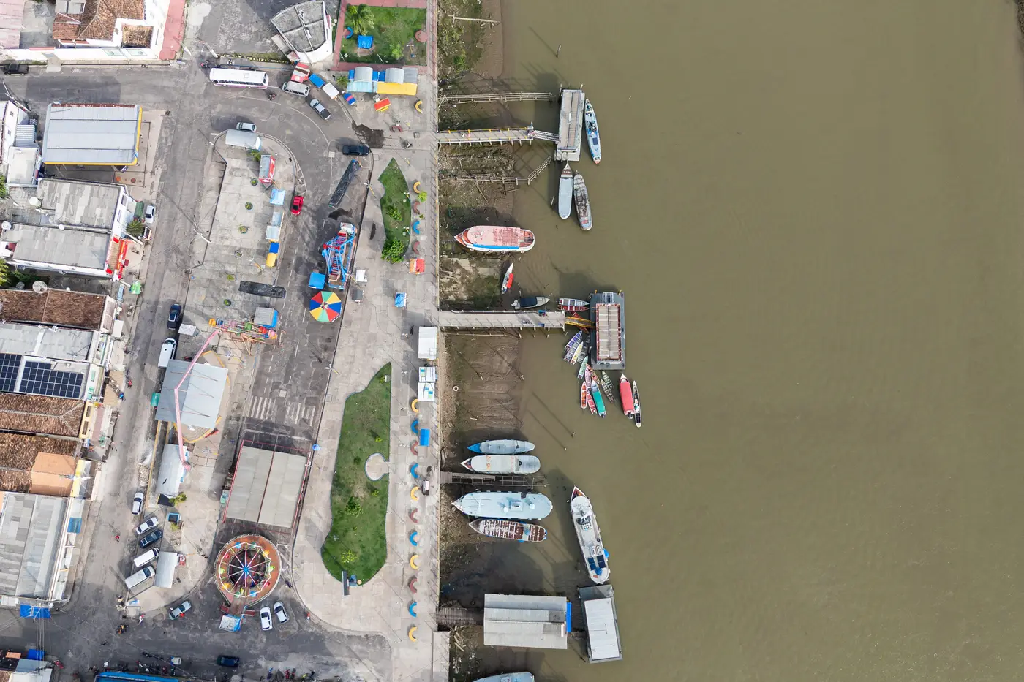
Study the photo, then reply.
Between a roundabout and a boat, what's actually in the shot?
boat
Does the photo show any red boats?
Yes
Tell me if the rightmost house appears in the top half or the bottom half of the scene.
bottom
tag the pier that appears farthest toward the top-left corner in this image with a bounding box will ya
[438,128,533,147]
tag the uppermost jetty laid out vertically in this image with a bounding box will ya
[556,89,585,163]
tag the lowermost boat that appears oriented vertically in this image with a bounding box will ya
[572,487,610,584]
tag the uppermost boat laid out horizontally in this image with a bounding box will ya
[455,224,535,253]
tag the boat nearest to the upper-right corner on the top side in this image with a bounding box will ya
[584,97,601,165]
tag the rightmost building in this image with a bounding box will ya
[484,594,572,649]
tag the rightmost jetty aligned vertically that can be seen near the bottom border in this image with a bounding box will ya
[578,585,623,664]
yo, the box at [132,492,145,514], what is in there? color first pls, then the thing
white vehicle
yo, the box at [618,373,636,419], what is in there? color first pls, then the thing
red boat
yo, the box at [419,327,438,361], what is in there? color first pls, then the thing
white tent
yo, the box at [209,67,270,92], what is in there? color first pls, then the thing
white bus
